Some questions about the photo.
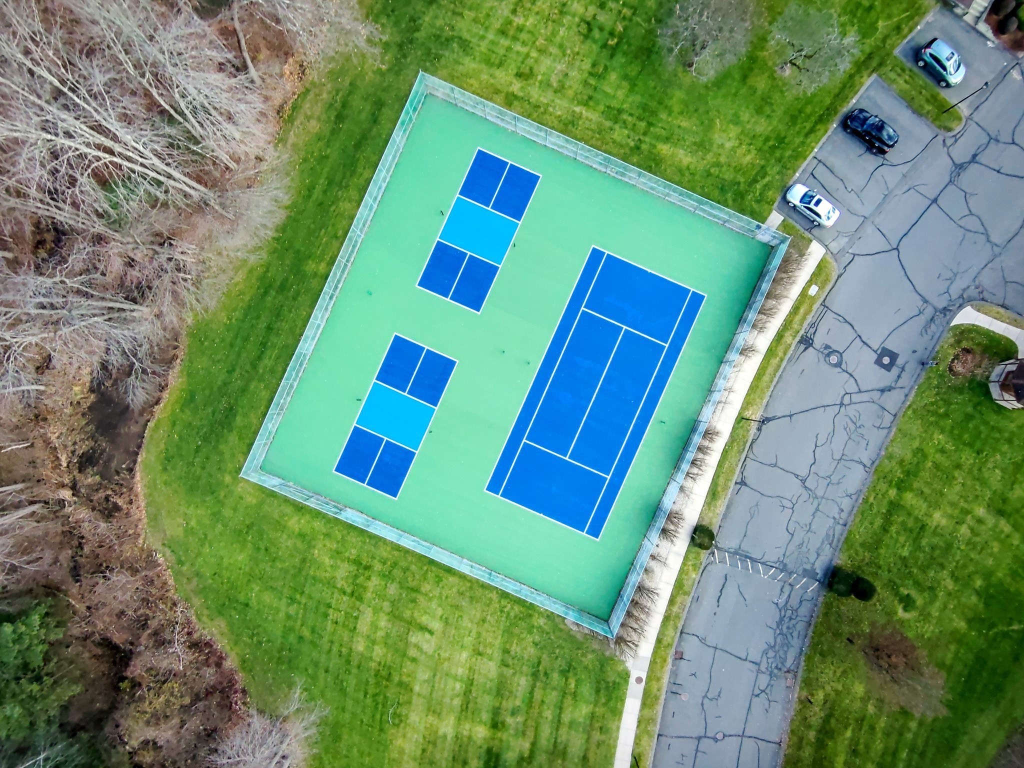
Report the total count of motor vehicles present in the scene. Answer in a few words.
3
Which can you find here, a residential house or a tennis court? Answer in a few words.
tennis court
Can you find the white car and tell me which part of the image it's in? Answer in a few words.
top right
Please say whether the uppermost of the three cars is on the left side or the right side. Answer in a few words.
right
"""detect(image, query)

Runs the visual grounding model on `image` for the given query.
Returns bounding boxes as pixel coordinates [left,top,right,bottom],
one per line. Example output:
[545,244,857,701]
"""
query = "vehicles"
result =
[843,106,901,154]
[786,183,840,227]
[921,41,965,85]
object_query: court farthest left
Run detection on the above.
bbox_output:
[334,333,459,500]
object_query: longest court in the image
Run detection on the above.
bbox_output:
[485,246,706,540]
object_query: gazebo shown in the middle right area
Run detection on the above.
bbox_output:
[989,359,1024,408]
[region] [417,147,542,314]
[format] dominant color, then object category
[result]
blue sports court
